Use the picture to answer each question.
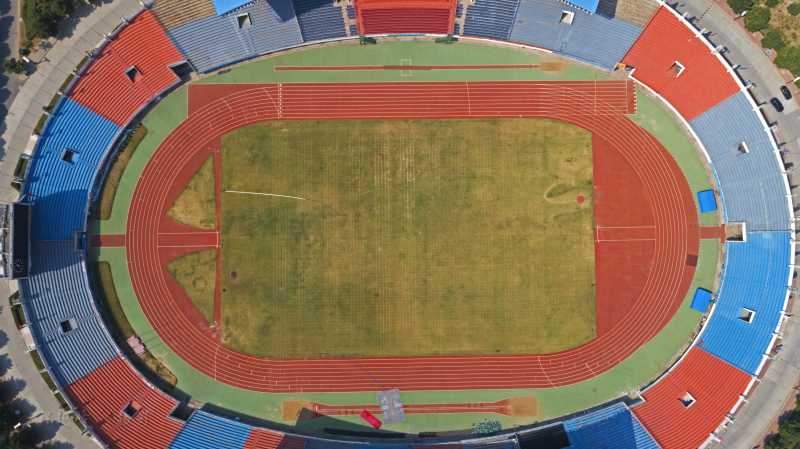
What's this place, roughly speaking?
sports ground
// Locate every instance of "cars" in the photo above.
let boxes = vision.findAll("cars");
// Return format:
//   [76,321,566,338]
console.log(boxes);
[779,85,791,100]
[770,97,783,112]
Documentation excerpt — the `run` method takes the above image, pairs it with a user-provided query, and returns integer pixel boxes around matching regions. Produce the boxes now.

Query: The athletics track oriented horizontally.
[91,80,722,393]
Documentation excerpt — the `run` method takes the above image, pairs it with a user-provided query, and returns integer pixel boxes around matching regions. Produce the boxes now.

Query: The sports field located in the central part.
[220,119,595,358]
